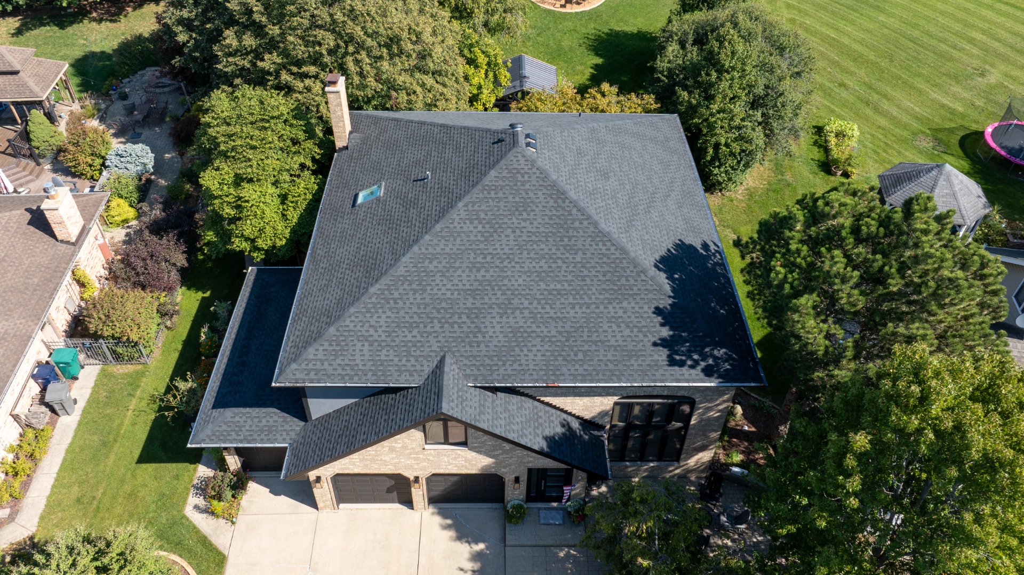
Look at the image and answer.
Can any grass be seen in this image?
Yes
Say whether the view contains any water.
No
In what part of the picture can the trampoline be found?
top right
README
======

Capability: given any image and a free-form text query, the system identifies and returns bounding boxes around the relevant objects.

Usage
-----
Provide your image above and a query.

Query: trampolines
[978,91,1024,184]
